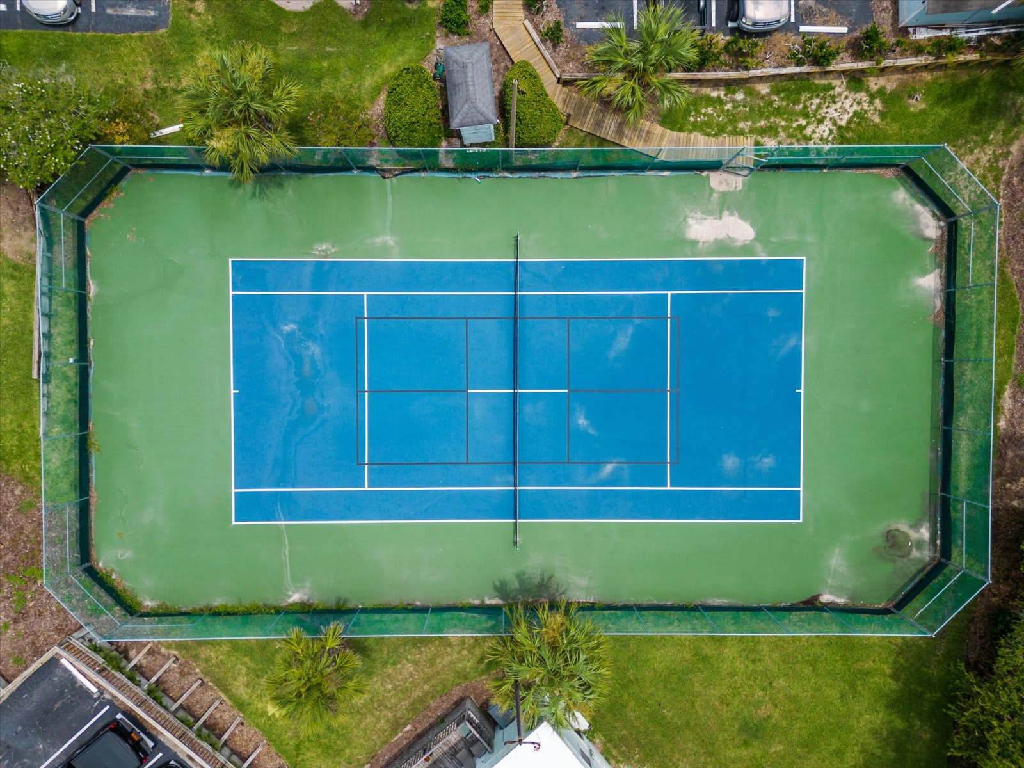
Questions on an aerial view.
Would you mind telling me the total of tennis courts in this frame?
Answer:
1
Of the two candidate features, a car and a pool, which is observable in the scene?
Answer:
car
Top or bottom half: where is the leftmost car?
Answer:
top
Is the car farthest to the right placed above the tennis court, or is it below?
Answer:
above it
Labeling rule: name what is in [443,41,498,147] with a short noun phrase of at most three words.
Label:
shed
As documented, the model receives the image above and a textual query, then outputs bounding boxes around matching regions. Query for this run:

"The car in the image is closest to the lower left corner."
[69,720,150,768]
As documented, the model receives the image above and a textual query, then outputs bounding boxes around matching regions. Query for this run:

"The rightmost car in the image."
[738,0,793,34]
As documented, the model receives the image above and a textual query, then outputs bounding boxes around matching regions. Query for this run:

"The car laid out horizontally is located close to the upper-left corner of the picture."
[28,0,85,27]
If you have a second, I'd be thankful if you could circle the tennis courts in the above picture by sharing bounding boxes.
[83,168,949,616]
